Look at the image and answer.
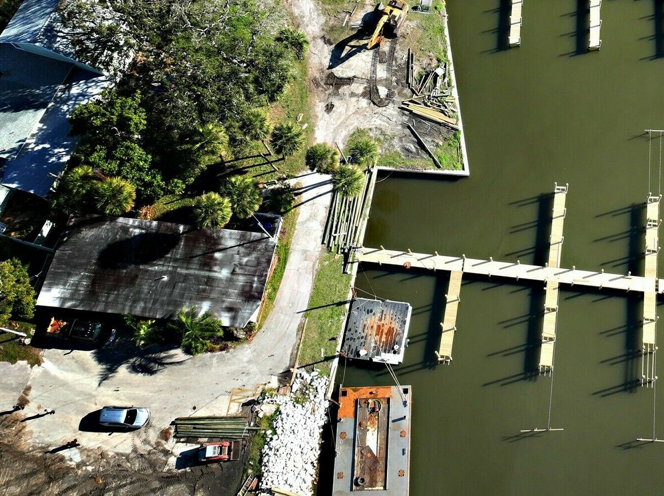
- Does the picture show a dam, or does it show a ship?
ship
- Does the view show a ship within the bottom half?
Yes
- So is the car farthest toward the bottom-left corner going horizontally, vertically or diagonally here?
horizontally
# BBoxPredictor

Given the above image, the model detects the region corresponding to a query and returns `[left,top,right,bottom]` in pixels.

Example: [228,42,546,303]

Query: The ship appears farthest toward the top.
[341,298,412,366]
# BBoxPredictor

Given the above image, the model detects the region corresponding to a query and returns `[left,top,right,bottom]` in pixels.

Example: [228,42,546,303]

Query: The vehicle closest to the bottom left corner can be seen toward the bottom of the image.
[94,405,149,432]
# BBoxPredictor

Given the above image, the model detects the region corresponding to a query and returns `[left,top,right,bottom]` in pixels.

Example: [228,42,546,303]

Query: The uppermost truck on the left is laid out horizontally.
[44,317,112,347]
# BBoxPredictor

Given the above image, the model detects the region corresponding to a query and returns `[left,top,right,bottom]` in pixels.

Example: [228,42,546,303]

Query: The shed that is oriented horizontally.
[36,215,276,331]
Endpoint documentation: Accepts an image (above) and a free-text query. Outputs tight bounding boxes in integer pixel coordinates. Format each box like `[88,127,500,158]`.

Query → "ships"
[331,386,412,496]
[341,298,412,366]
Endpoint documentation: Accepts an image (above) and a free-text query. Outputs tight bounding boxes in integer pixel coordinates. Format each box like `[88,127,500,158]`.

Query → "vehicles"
[44,317,112,347]
[367,0,414,53]
[94,405,149,432]
[198,440,241,463]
